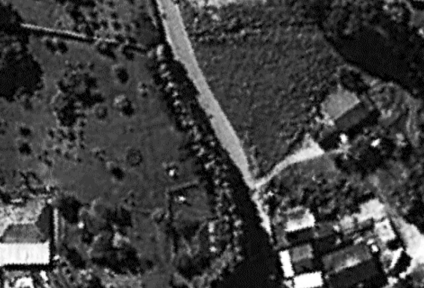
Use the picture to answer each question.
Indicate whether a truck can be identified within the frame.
No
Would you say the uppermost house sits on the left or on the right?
right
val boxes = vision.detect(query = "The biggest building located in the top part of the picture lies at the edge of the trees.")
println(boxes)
[321,89,363,129]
